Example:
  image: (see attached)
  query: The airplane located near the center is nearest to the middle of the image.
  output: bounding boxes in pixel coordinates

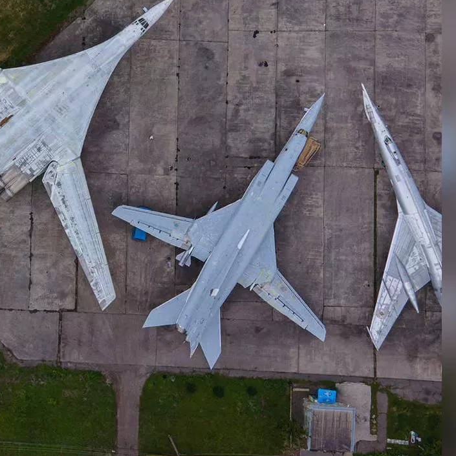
[112,90,329,369]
